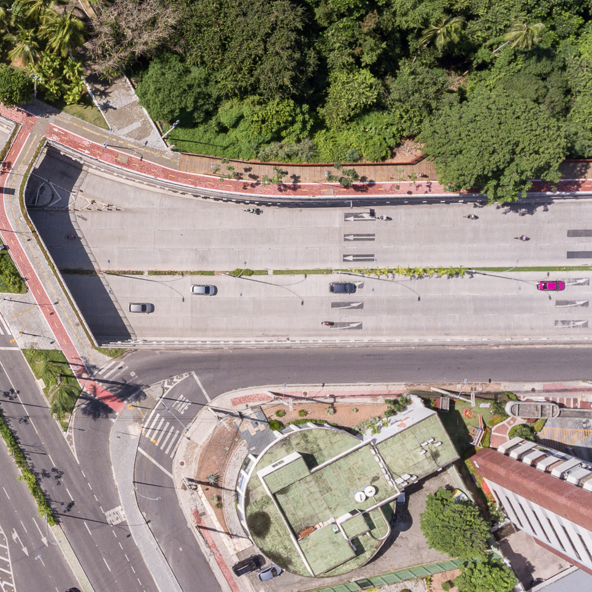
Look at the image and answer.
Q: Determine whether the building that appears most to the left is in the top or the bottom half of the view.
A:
bottom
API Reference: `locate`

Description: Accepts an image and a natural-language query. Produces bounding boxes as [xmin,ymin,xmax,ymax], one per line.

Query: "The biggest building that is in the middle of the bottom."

[230,417,403,580]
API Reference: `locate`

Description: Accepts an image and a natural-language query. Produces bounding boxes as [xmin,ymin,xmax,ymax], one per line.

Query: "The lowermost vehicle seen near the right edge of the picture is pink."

[536,279,563,292]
